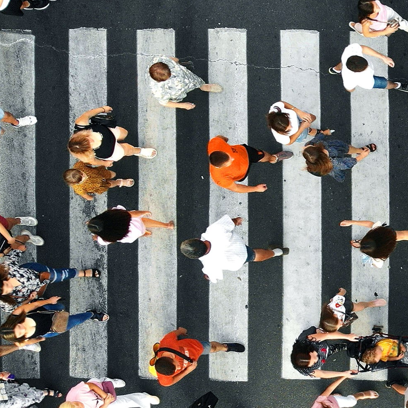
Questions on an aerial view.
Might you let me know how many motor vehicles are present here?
zero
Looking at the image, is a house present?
No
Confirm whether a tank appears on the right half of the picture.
No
